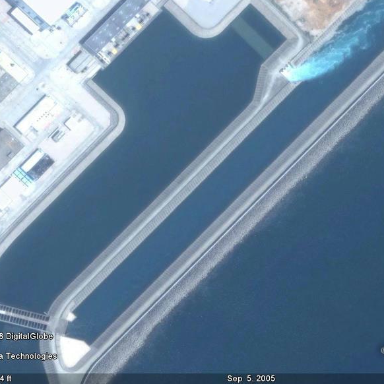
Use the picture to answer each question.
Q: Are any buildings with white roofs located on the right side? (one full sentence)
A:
No, I can find no building with a white roof on the right side.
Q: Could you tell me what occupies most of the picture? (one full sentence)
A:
The scene is dominated by water.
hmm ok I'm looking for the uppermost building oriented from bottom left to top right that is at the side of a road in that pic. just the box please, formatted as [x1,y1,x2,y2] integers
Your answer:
[83,0,150,56]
